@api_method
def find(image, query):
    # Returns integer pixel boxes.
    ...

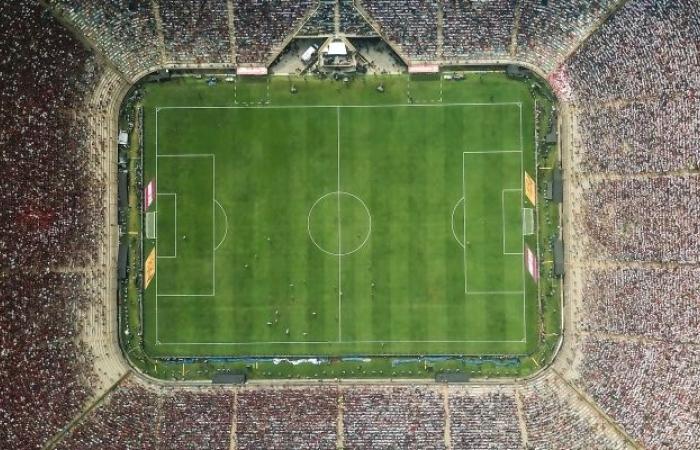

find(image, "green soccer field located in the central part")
[153,77,528,350]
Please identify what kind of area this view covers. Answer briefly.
sports ground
